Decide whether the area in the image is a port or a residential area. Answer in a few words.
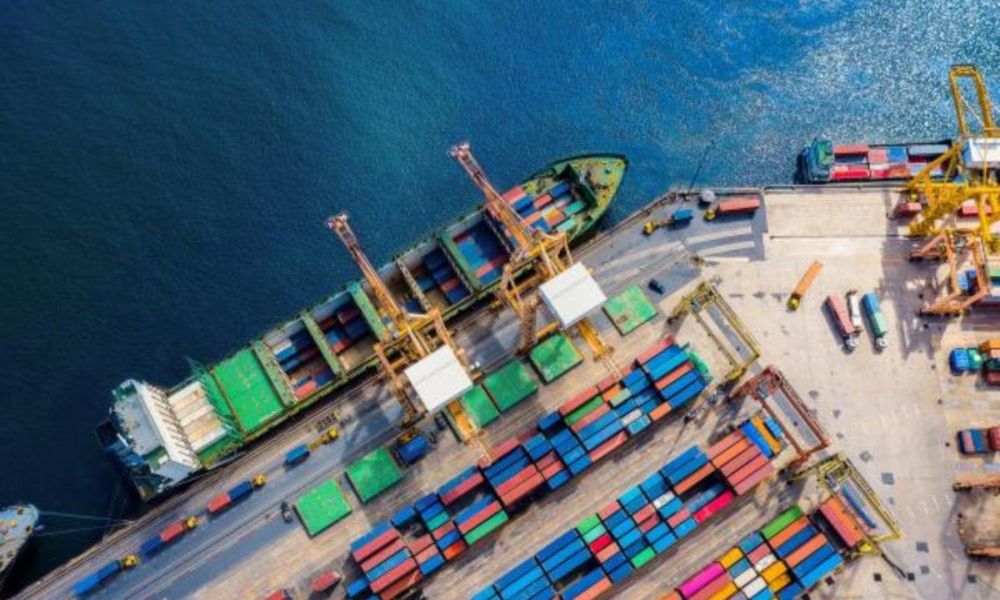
port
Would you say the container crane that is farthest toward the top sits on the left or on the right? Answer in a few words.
right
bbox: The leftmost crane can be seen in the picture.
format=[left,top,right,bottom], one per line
[319,206,489,460]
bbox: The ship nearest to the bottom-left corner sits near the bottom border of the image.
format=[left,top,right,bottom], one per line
[0,509,47,579]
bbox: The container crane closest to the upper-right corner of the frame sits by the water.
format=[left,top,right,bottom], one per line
[893,64,1000,243]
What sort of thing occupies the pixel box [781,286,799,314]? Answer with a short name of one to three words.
vehicle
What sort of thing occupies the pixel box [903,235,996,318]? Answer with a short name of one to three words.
container crane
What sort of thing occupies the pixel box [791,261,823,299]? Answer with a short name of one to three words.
shipping container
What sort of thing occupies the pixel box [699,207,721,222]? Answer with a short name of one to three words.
vehicle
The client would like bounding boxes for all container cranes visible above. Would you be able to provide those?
[720,367,840,477]
[903,235,996,318]
[446,133,622,370]
[782,453,918,566]
[660,280,769,390]
[893,64,1000,243]
[319,206,489,460]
